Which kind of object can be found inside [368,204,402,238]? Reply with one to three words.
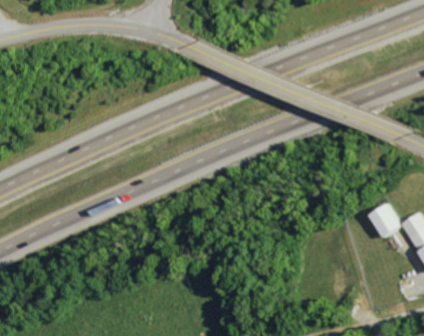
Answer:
house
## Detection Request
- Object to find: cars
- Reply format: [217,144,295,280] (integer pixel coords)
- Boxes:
[411,269,416,278]
[16,242,28,249]
[68,146,79,153]
[131,178,142,186]
[406,270,412,279]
